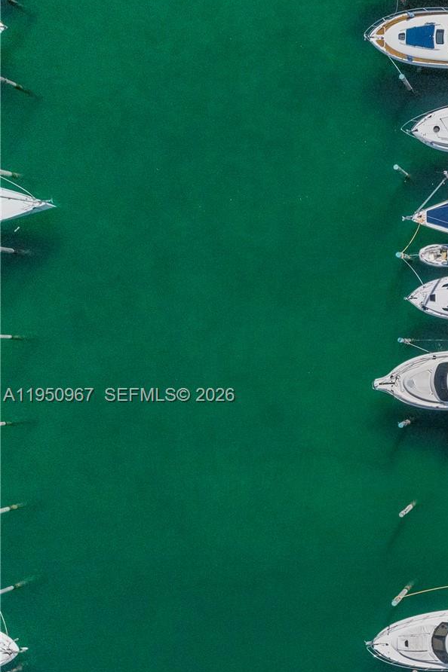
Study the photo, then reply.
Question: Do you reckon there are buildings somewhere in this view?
No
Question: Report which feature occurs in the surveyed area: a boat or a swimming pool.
boat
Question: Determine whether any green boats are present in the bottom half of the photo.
No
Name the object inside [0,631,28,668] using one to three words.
boat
